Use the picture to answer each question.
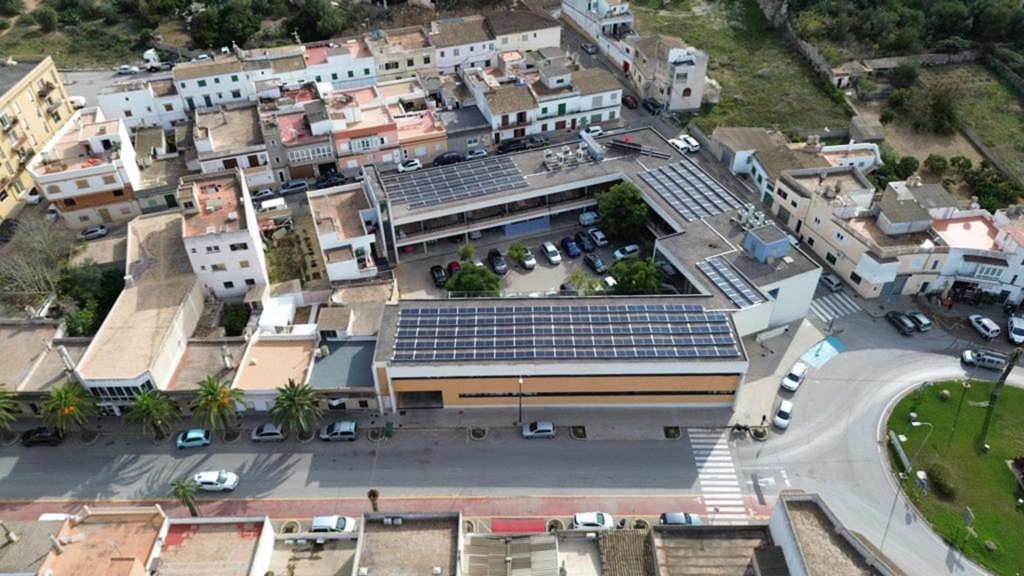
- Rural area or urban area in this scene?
urban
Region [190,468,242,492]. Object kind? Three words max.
car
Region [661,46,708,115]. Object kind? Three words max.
house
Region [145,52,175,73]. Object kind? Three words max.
vehicle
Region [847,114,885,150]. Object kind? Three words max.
building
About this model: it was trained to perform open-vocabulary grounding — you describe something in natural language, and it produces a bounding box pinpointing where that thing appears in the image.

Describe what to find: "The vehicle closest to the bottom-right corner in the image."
[961,350,1010,370]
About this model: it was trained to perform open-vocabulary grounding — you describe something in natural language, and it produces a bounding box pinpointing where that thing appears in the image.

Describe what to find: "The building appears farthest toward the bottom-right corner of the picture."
[769,491,913,576]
